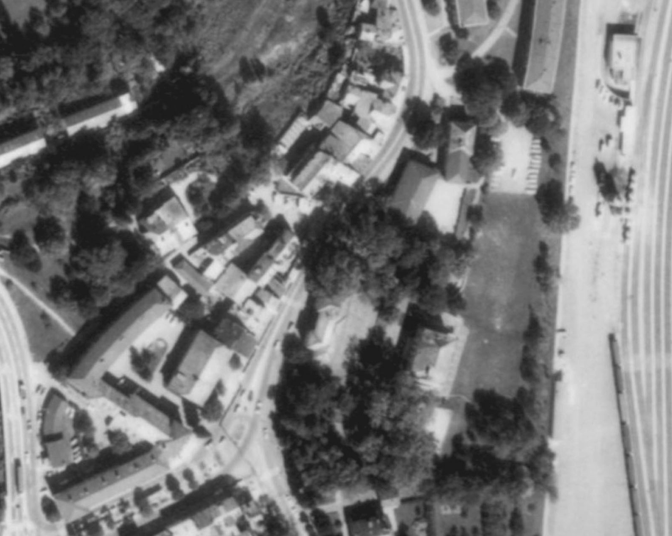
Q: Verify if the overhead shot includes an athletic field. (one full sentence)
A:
Yes, the image includes an athletic field.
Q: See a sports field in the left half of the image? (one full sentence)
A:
No, there is no sports field in the left half of the image.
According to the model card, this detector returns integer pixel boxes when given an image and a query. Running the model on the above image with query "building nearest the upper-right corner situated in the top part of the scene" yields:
[608,34,638,97]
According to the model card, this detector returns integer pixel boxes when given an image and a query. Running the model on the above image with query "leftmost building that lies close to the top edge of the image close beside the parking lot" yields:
[523,0,565,96]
